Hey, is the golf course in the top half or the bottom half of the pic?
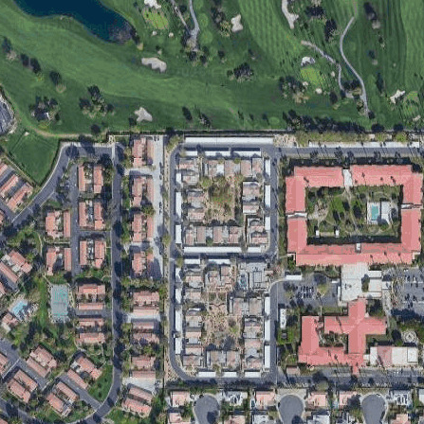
top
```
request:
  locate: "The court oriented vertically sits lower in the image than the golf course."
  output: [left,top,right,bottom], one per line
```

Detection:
[51,283,69,322]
